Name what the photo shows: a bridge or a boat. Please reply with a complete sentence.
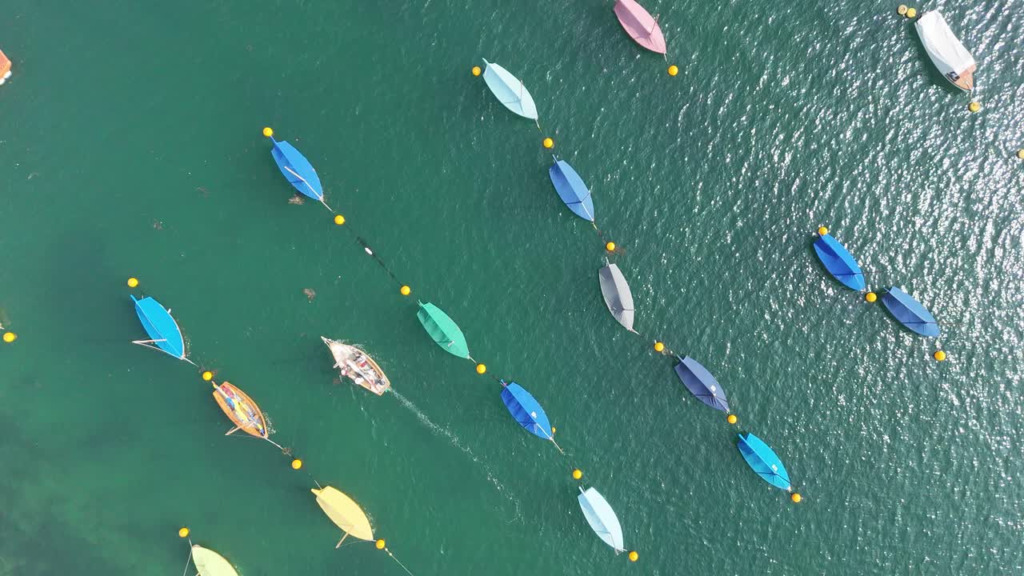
This aerial view contains a boat.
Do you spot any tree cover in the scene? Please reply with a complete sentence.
No, there's no tree cover in this view.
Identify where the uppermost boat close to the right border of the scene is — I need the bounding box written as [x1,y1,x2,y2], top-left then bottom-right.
[911,9,980,102]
